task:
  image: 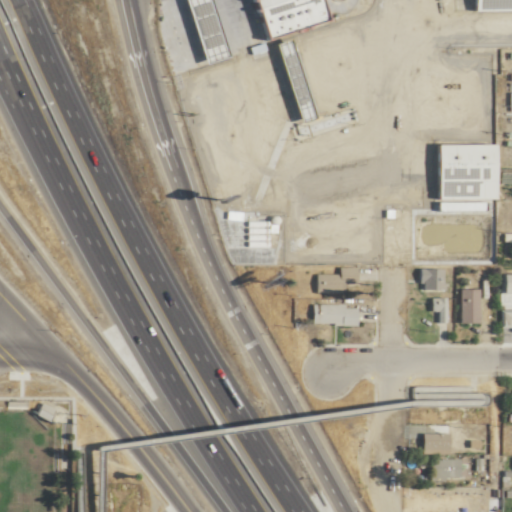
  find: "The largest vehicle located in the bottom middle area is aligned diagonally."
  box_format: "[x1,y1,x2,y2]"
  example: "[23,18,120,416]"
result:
[215,367,241,407]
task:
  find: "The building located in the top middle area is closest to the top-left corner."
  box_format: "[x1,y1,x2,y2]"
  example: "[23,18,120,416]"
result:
[190,0,231,64]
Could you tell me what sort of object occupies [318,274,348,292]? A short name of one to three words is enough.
house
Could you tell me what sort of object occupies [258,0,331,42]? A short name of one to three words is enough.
building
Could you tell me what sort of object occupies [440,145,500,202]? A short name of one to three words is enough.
building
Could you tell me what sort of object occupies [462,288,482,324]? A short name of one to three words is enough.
house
